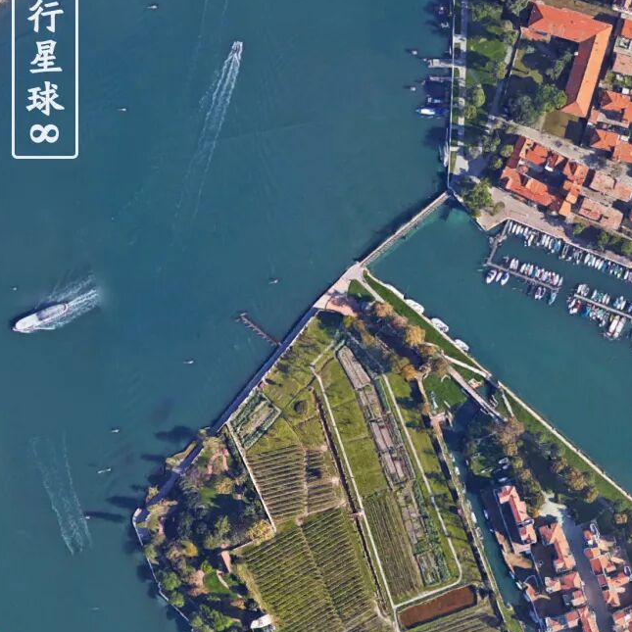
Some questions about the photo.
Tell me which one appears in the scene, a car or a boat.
boat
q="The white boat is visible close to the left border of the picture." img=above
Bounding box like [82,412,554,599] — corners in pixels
[12,301,69,329]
